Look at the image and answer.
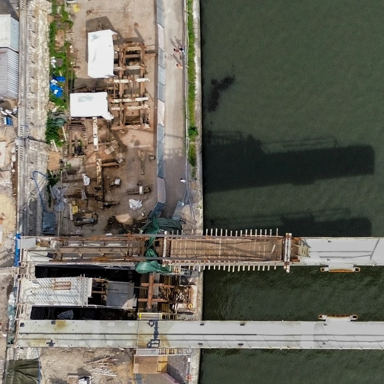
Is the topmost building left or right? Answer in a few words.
left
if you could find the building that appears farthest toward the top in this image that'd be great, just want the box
[0,13,26,53]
